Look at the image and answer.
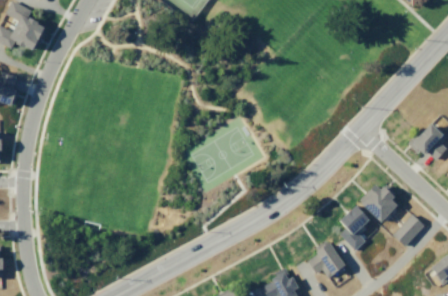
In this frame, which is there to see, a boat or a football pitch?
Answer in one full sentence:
The one in the frame is a football pitch.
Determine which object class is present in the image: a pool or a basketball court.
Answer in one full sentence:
Of the two, only a basketball court appears.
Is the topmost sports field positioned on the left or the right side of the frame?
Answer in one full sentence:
The topmost sports field is on the right side of the image.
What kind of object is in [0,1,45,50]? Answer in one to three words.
house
